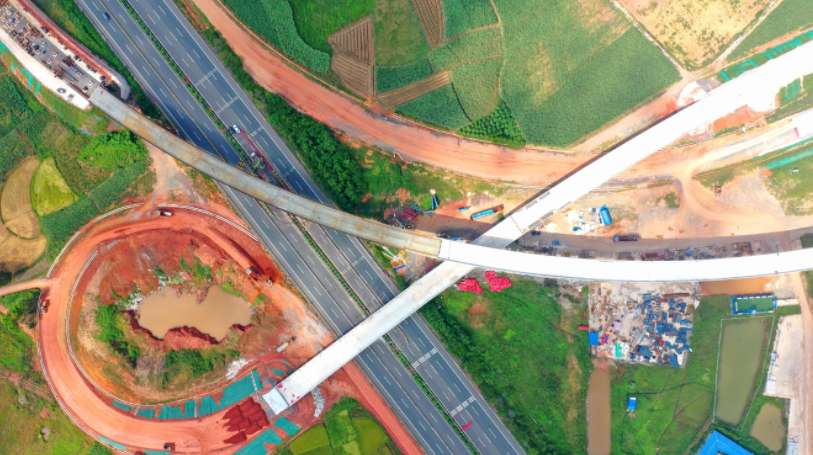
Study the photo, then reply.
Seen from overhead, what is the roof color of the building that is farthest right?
blue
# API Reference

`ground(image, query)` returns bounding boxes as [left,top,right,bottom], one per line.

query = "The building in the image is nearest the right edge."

[690,426,759,455]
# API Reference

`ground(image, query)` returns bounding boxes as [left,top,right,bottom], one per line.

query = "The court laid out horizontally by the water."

[731,293,777,316]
